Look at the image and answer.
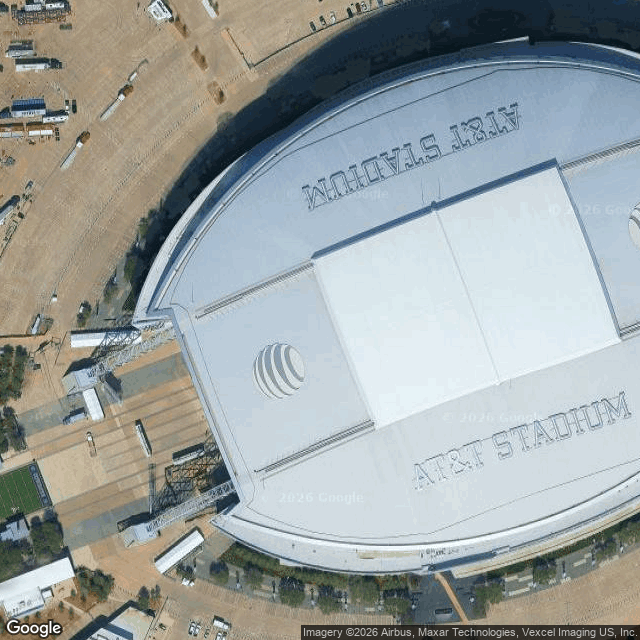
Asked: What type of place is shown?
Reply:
sports ground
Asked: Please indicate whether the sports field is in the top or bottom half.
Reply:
bottom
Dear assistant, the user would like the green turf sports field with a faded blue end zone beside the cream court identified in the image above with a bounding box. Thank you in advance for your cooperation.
[0,463,52,526]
